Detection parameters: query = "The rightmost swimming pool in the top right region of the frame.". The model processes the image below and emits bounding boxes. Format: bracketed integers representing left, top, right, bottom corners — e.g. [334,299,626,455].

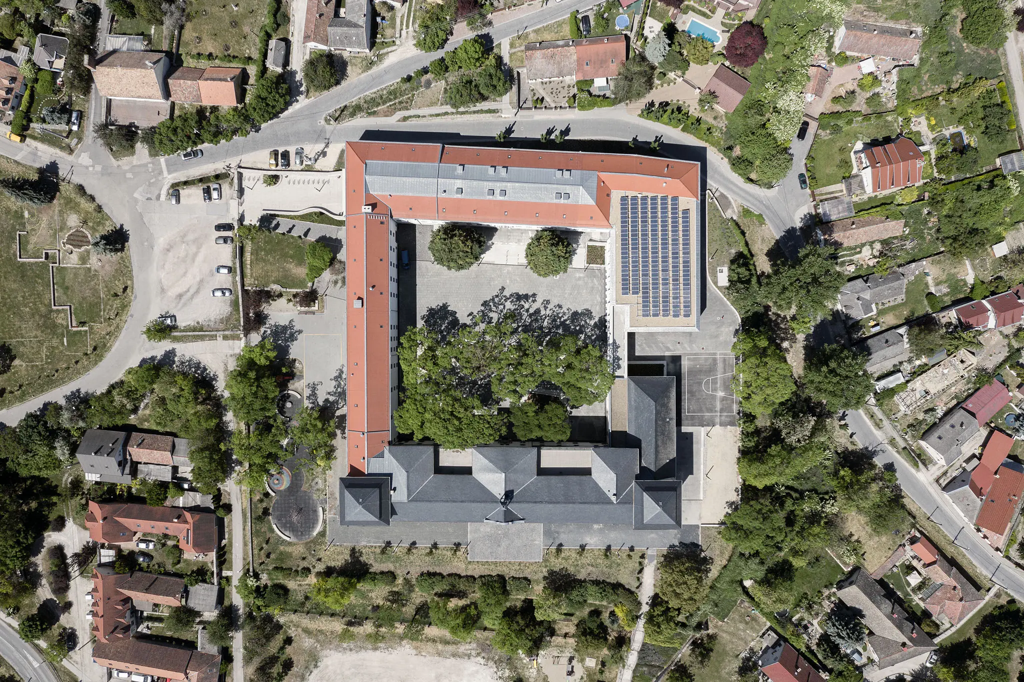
[949,129,969,149]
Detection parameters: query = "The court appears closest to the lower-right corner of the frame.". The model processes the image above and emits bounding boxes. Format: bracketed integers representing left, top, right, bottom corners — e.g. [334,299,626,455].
[627,352,740,427]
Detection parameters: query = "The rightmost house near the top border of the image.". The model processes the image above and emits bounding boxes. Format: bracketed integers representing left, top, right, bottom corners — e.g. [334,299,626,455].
[833,21,923,64]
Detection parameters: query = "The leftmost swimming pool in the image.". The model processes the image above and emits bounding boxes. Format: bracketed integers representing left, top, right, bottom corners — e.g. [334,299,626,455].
[615,12,630,29]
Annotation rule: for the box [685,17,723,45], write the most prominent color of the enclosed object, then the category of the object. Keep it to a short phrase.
blue swimming pool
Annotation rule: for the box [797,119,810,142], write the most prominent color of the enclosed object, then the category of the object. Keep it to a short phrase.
black vehicle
